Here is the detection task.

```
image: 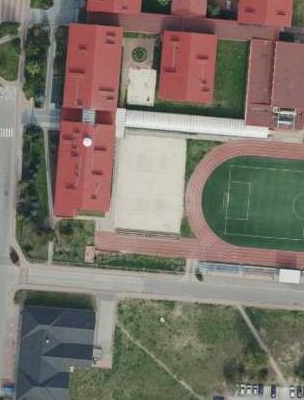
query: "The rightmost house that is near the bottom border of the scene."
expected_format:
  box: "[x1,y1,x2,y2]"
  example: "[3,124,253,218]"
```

[18,306,97,400]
